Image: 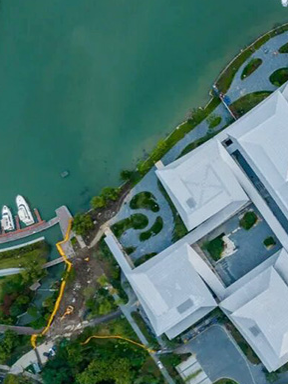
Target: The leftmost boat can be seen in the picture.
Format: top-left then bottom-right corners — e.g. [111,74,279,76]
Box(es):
[0,206,13,231]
